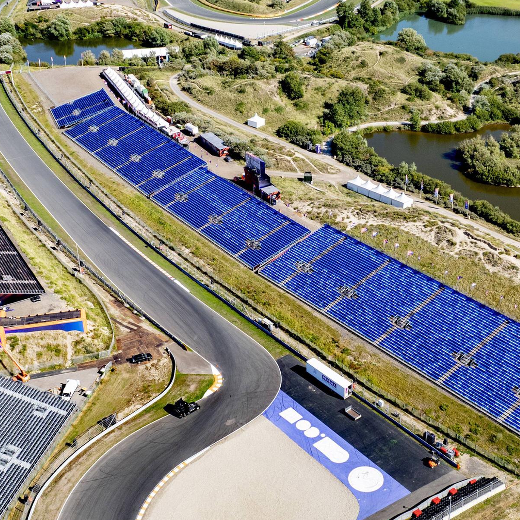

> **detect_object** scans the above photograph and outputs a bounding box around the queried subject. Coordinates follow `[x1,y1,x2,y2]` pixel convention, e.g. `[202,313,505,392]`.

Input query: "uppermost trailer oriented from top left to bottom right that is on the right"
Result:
[308,357,353,397]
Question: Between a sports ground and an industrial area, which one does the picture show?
sports ground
